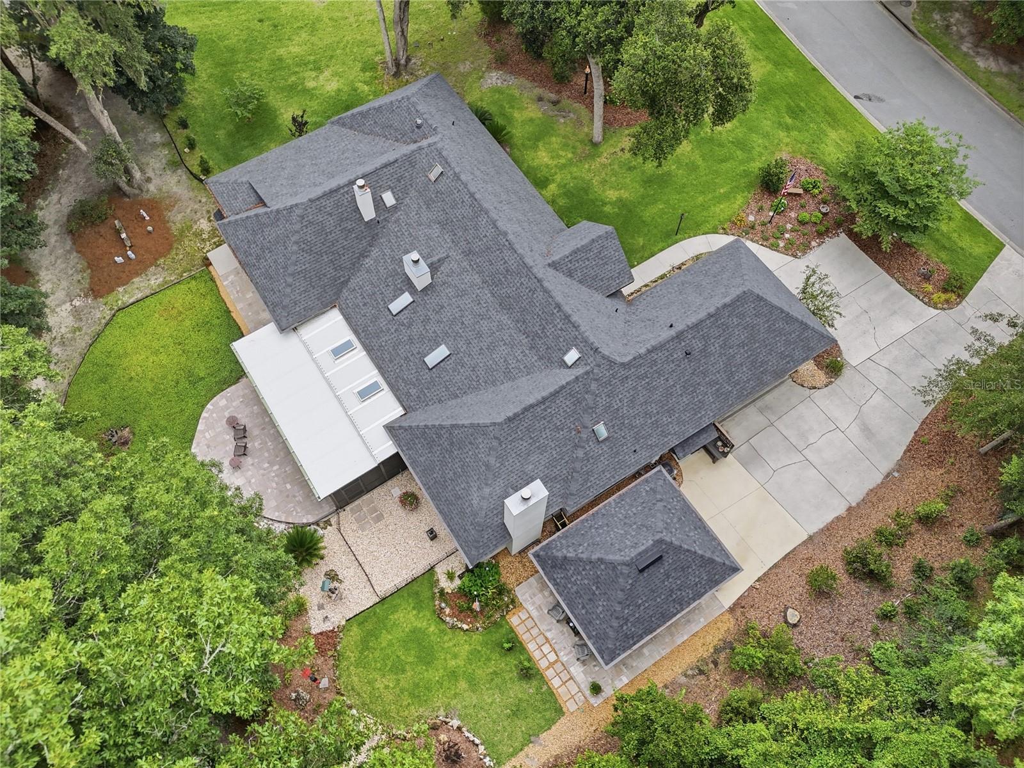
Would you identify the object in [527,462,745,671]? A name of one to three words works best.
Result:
building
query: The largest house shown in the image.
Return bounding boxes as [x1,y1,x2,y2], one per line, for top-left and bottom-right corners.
[202,72,838,570]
